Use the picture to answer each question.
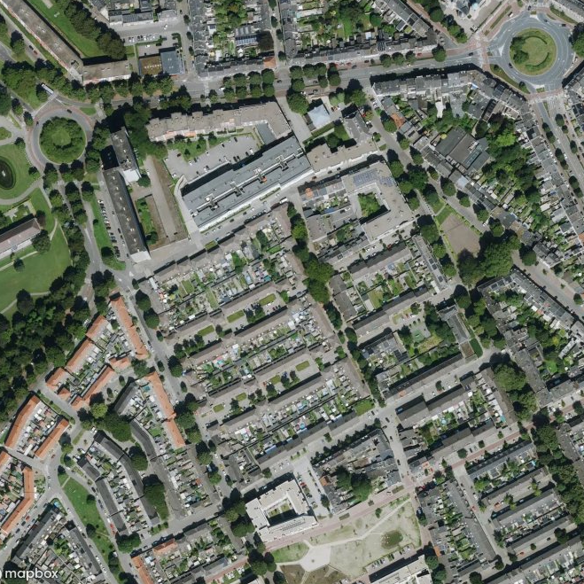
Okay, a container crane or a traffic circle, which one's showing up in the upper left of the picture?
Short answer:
traffic circle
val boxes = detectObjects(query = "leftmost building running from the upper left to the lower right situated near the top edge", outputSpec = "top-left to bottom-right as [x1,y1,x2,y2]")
[0,0,83,73]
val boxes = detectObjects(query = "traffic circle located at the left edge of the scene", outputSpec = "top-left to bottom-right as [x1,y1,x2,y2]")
[25,102,101,177]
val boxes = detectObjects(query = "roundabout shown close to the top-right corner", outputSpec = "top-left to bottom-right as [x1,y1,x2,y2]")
[496,14,572,90]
